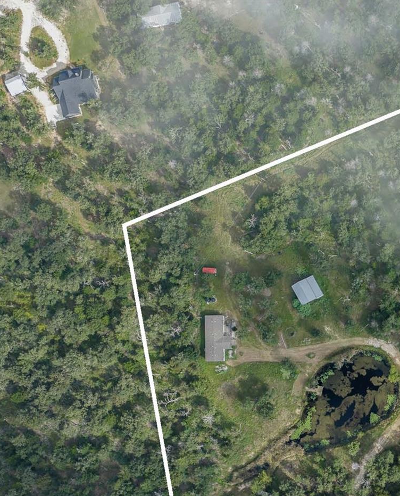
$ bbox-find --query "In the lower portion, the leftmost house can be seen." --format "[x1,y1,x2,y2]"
[205,315,235,361]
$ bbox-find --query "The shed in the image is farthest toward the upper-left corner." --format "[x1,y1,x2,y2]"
[5,76,30,98]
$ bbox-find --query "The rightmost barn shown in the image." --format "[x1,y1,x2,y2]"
[291,276,326,304]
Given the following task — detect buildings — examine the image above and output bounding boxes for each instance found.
[291,276,326,304]
[52,67,101,119]
[205,315,235,361]
[139,2,183,30]
[5,76,30,98]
